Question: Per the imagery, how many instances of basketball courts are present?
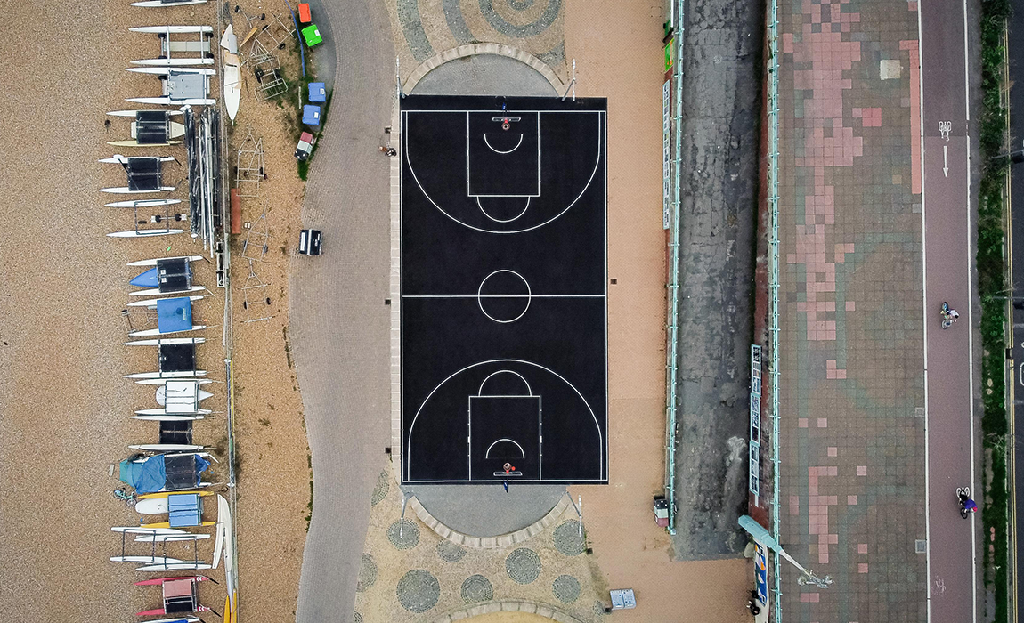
one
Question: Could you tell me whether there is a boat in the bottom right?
No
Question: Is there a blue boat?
Yes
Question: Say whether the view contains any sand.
Yes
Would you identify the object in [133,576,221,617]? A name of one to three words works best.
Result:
boat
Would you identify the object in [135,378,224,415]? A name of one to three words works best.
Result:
boat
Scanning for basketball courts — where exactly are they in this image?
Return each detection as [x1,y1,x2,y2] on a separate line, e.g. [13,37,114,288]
[400,97,608,484]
